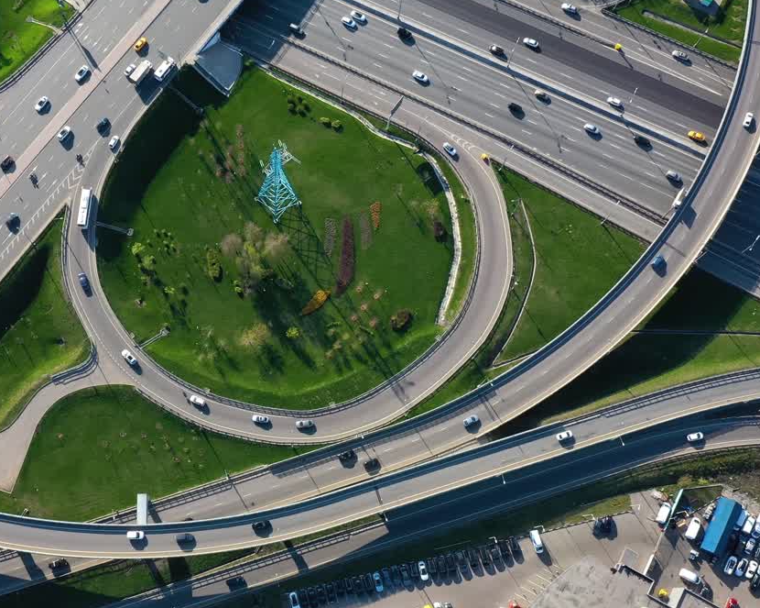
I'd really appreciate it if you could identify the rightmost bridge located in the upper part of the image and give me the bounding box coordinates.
[552,0,760,373]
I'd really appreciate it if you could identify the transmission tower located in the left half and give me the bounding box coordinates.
[254,142,301,222]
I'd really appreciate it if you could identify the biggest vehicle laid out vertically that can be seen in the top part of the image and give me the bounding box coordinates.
[74,185,93,235]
